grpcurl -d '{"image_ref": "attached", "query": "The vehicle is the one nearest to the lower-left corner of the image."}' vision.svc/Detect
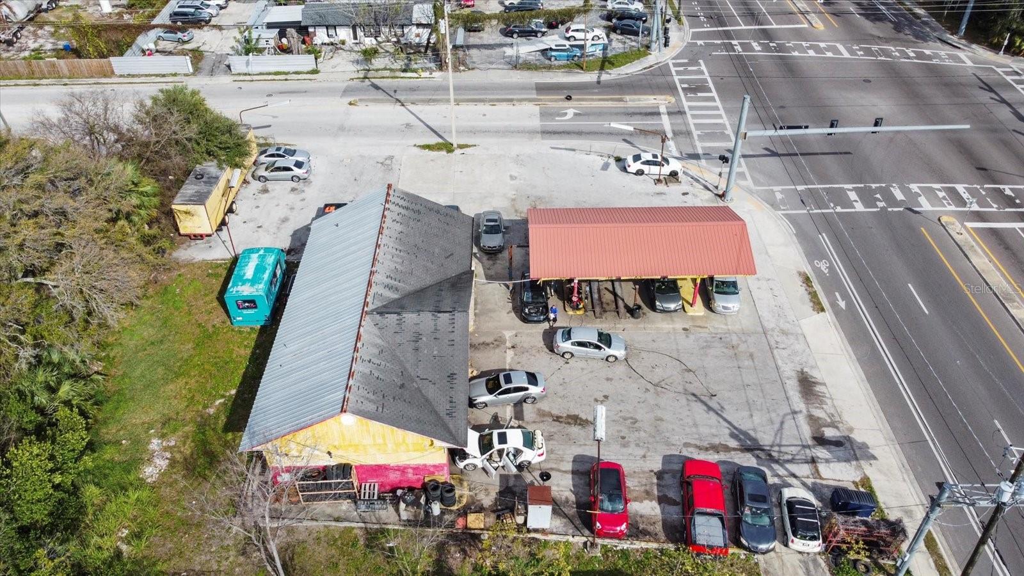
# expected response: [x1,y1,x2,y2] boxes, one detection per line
[225,253,289,327]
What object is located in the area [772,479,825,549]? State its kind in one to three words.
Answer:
car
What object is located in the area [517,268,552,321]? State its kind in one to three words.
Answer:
car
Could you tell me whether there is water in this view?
No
